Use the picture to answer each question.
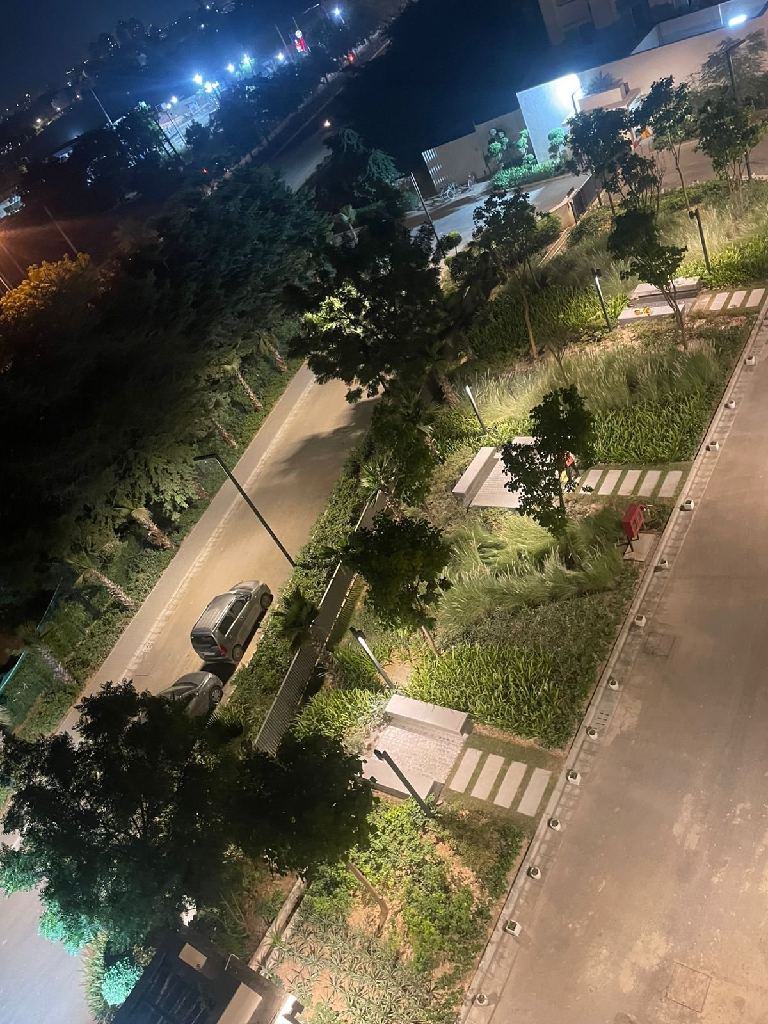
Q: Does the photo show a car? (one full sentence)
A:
Yes, a car appears in the view.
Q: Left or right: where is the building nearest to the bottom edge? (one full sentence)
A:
You can find the building nearest to the bottom edge on the left side of the picture.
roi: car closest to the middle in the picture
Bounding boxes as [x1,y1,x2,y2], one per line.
[182,579,267,668]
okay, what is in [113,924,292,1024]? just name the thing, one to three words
building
